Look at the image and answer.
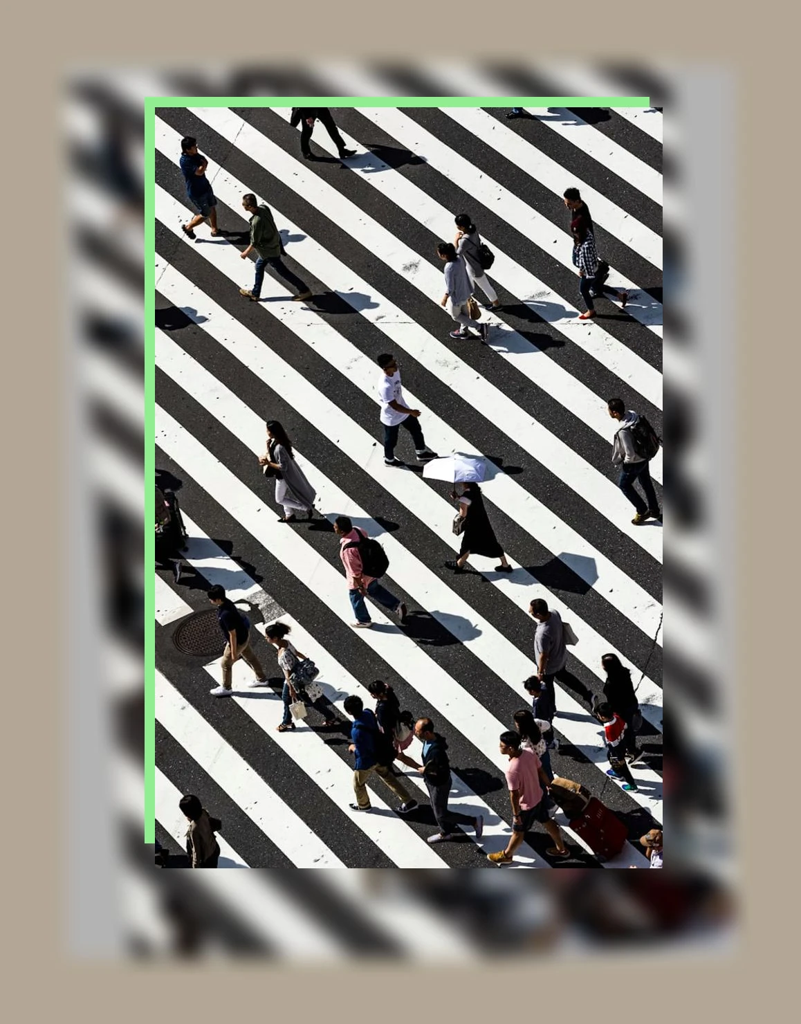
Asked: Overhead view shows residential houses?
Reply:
No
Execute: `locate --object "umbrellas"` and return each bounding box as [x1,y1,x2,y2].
[419,456,490,505]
